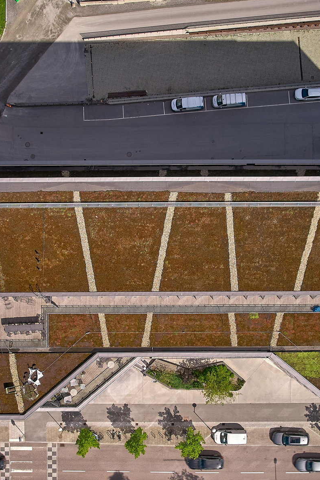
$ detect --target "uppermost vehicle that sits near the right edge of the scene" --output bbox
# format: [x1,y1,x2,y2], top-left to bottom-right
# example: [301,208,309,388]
[294,87,320,102]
